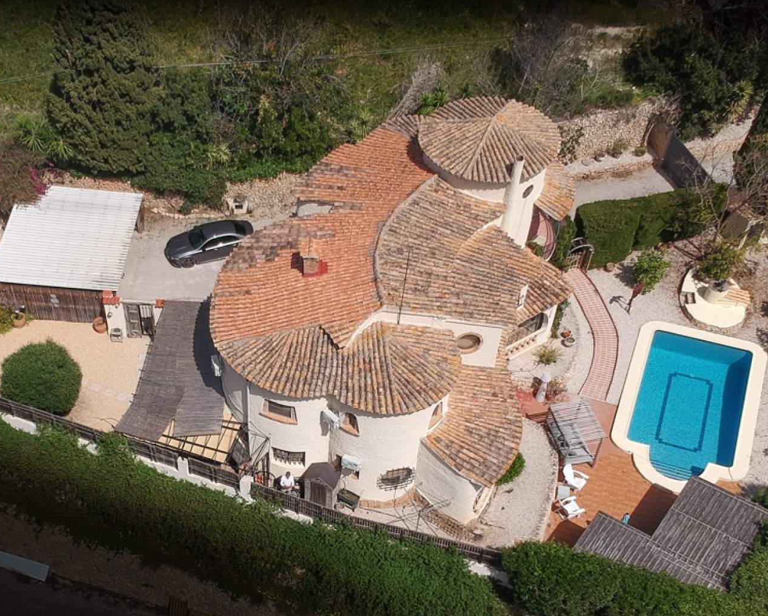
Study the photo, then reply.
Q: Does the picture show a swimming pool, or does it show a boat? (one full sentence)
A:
Of the two, only a swimming pool appears.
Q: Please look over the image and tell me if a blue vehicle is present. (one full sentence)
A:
No, no blue vehicle can be seen from above.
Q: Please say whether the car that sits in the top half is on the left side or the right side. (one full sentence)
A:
The car that sits in the top half is on the left side of the image.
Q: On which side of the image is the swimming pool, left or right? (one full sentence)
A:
The swimming pool is on the right side of the image.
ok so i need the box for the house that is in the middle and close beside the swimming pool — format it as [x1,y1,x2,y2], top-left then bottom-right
[207,100,577,525]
